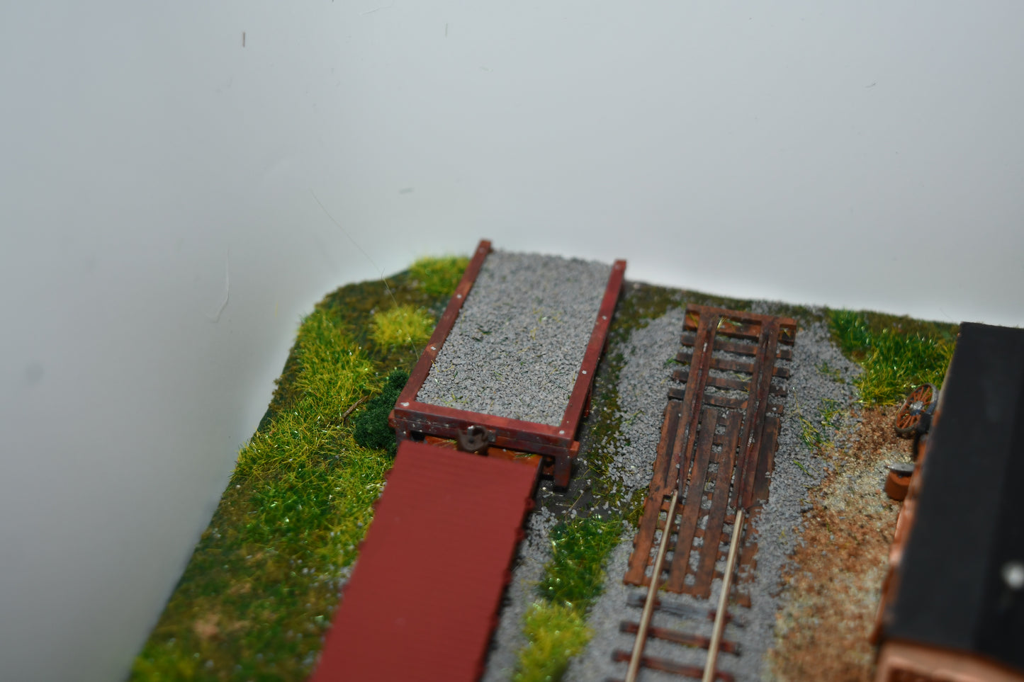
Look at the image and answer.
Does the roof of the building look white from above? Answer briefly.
No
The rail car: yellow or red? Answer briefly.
red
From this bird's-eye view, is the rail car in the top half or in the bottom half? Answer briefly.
bottom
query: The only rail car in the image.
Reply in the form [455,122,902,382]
[310,425,540,682]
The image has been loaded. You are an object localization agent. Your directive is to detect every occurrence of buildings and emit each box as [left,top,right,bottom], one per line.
[869,324,1024,682]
